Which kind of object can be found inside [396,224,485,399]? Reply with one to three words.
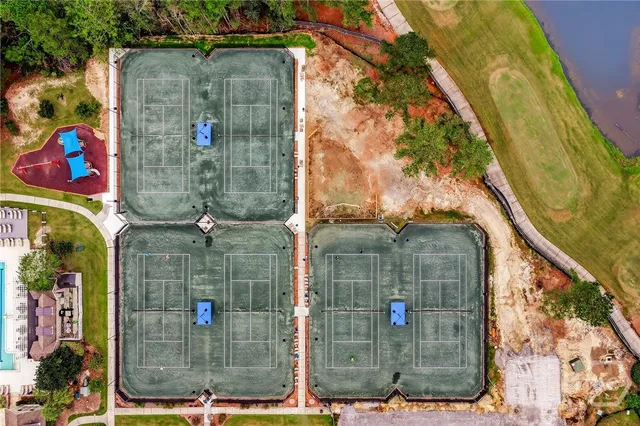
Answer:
tennis court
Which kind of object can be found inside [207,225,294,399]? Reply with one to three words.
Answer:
tennis court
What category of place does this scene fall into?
sports ground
